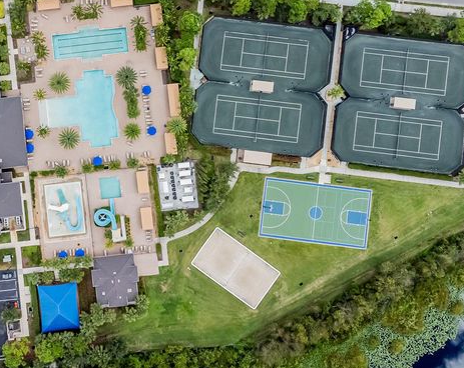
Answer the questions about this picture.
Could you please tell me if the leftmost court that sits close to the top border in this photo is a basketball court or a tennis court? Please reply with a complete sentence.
The leftmost court that sits close to the top border is a tennis court.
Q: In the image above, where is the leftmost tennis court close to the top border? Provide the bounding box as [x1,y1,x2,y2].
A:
[198,18,331,93]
